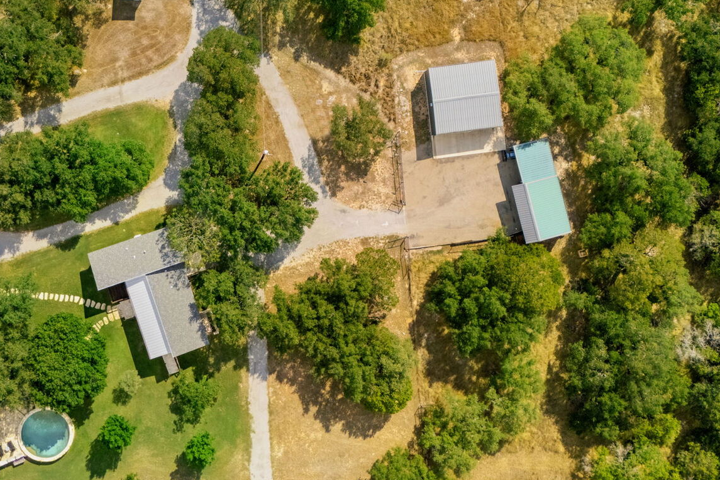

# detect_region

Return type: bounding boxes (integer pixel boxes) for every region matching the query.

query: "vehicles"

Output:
[500,147,516,160]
